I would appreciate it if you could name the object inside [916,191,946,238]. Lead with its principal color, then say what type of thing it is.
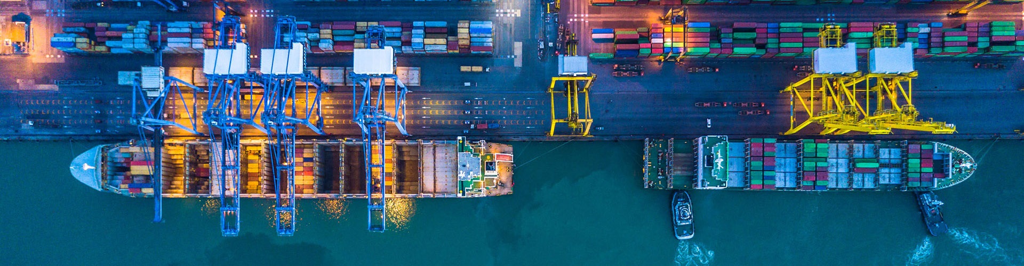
blue boat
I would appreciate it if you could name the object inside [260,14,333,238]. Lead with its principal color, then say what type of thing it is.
blue container crane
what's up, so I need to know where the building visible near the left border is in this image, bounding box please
[5,21,36,55]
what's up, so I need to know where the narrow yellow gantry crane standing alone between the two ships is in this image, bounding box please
[542,33,593,135]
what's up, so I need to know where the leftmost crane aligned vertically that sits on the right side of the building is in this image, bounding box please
[127,23,210,221]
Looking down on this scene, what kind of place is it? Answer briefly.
port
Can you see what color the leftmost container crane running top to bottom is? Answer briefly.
blue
